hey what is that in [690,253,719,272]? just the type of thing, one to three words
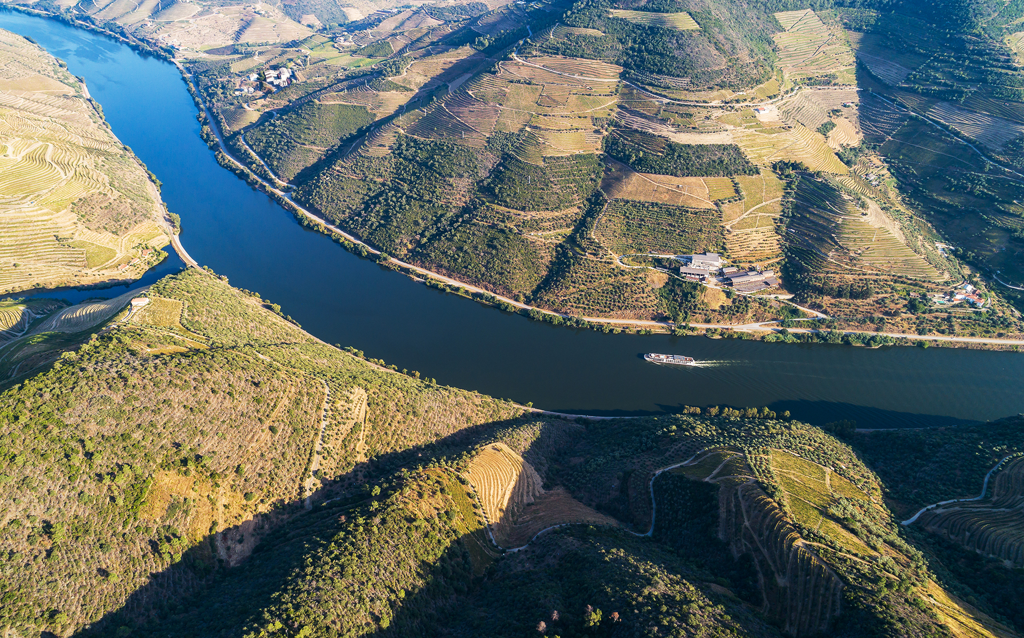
building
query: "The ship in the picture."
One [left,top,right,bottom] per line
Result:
[645,353,695,367]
